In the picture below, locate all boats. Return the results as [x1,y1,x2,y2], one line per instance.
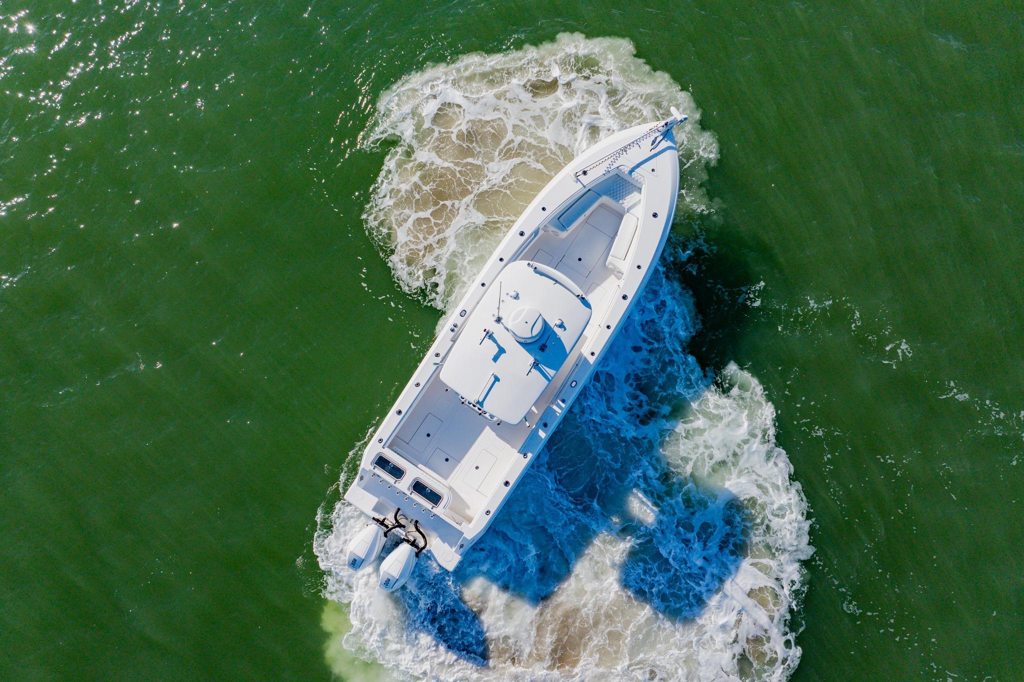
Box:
[346,108,688,590]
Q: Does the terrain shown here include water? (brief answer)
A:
Yes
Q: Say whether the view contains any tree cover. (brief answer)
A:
No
